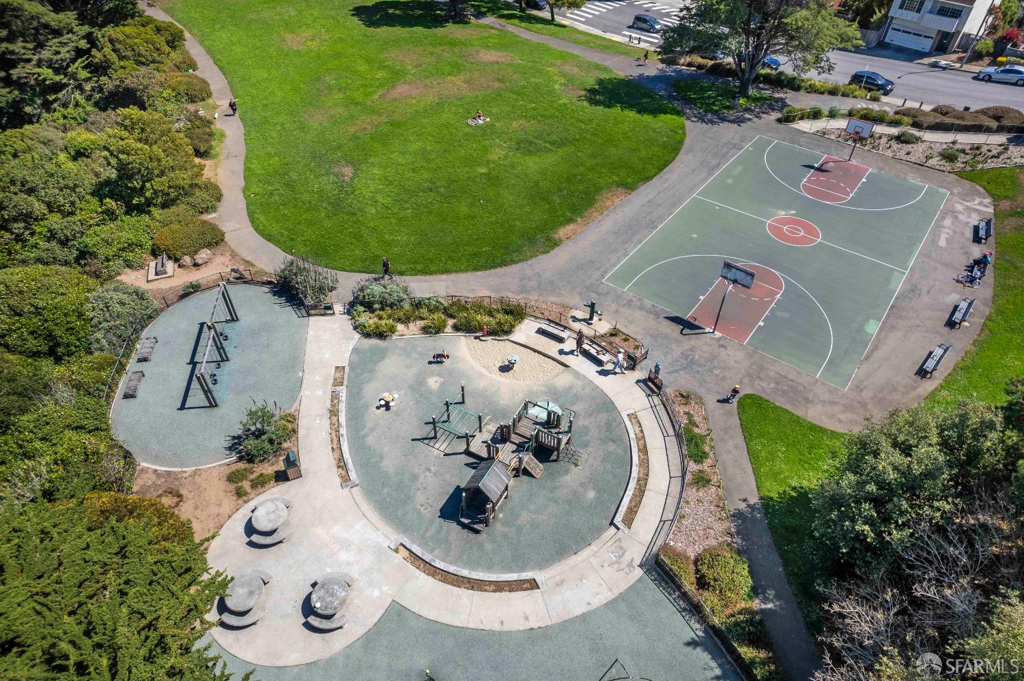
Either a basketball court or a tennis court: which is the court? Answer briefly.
basketball court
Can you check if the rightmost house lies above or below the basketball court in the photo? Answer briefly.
above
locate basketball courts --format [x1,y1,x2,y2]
[603,135,948,390]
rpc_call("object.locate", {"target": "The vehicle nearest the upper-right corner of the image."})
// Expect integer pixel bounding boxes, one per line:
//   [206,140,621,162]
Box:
[978,60,1024,82]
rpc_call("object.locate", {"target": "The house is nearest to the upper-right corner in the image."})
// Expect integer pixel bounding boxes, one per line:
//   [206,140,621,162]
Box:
[884,0,985,57]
